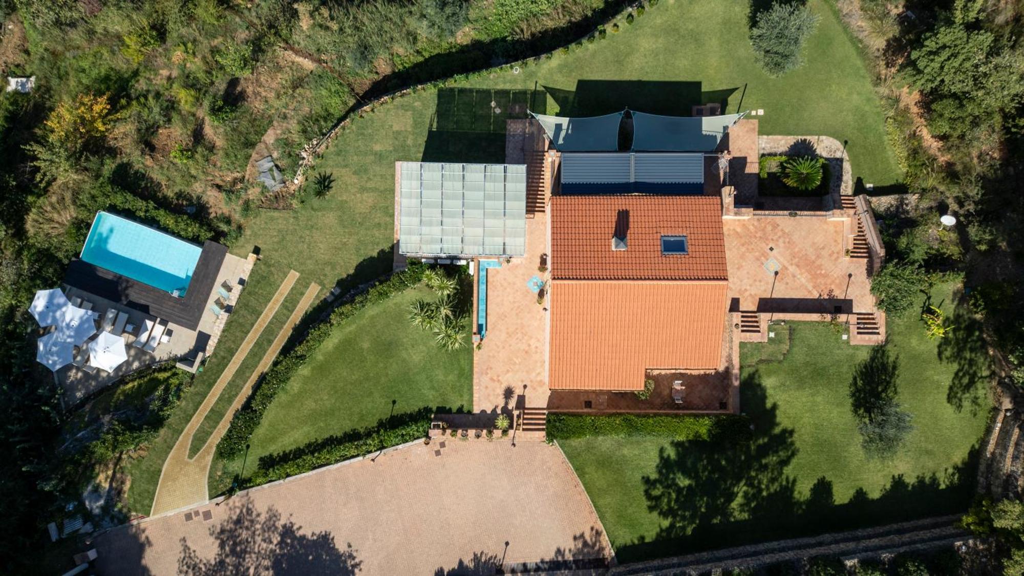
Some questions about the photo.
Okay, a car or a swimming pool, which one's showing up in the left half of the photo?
swimming pool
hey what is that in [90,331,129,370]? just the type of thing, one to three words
umbrella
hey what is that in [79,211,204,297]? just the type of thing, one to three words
swimming pool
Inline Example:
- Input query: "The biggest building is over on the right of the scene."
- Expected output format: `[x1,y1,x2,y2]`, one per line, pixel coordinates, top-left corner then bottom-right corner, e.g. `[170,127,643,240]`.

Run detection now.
[543,193,728,391]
